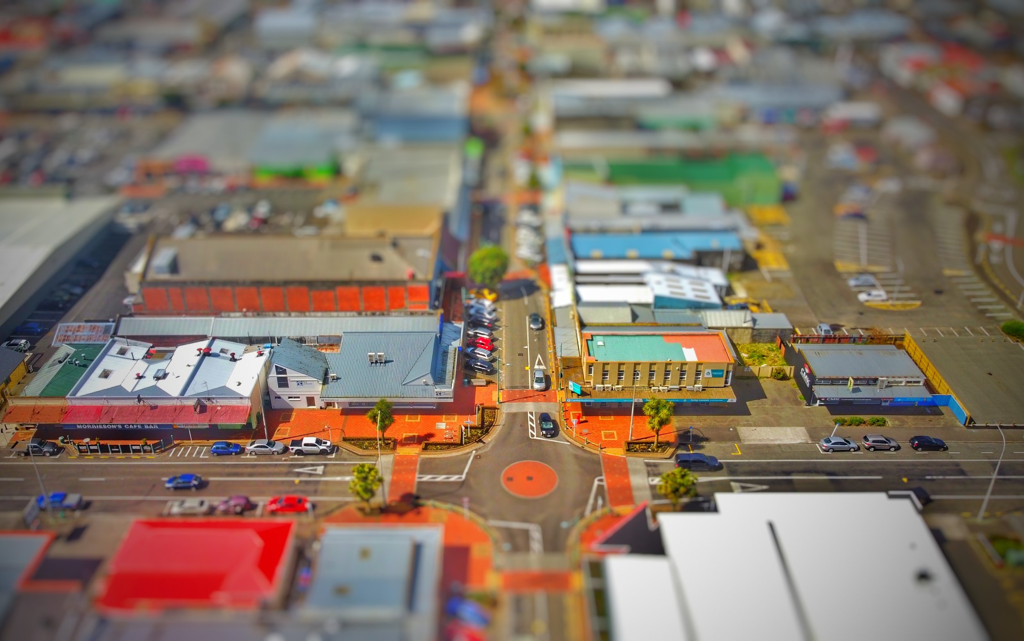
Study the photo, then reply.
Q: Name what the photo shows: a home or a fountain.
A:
home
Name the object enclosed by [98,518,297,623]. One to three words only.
house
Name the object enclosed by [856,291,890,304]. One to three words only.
vehicle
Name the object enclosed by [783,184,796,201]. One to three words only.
vehicle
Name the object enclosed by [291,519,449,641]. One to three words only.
building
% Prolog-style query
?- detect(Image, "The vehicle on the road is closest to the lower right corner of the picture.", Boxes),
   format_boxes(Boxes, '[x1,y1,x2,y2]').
[903,487,945,508]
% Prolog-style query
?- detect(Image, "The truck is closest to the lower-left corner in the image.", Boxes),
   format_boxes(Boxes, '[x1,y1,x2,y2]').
[37,490,88,511]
